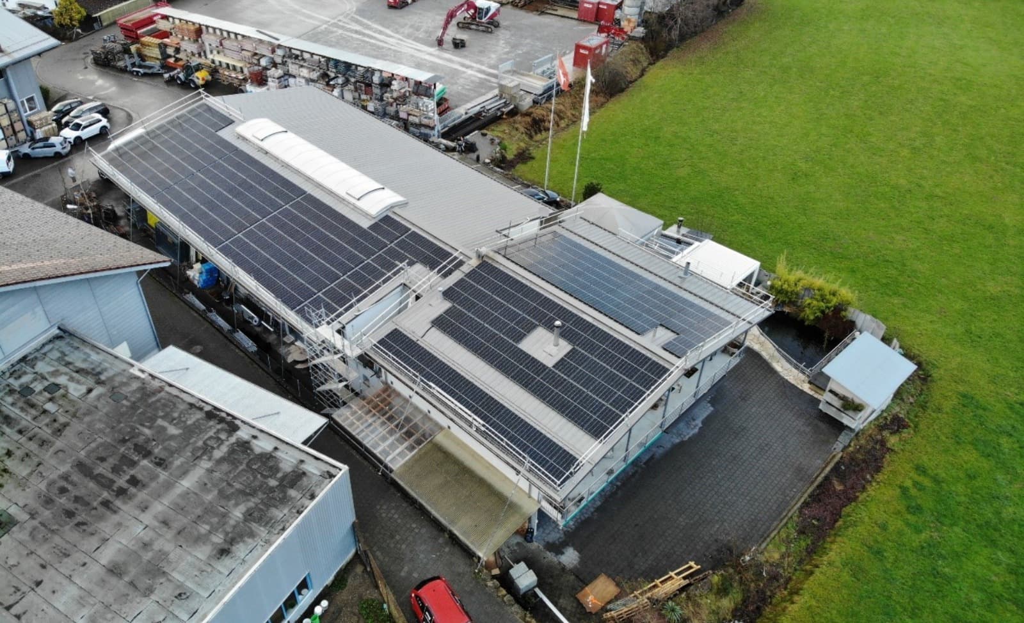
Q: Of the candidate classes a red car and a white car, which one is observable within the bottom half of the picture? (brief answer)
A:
red car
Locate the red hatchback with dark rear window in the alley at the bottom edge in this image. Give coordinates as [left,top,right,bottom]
[414,579,474,623]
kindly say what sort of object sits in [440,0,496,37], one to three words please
work vehicle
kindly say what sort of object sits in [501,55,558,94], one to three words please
trailer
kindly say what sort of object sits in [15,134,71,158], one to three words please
car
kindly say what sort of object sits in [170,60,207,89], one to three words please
work vehicle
